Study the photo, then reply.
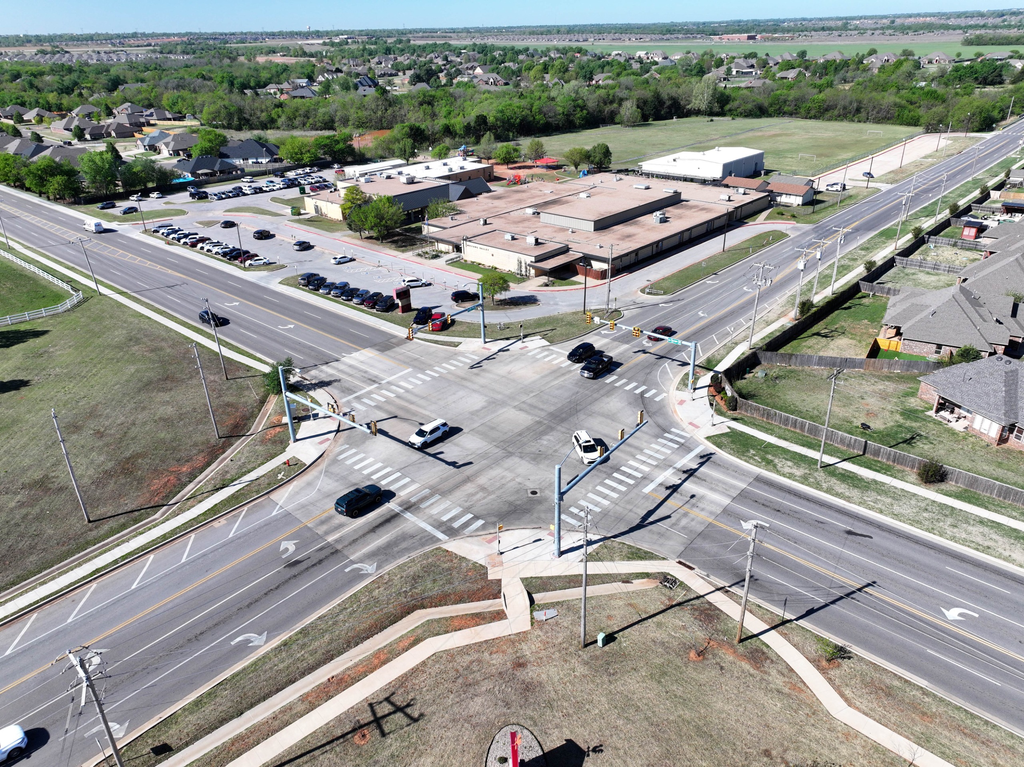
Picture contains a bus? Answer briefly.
Yes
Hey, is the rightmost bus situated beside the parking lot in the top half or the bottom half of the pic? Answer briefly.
top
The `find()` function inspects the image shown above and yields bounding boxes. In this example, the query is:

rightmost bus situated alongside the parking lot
[851,137,986,184]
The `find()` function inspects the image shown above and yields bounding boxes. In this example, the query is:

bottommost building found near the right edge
[886,355,1024,466]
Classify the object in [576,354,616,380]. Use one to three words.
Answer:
truck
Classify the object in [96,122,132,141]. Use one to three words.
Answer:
house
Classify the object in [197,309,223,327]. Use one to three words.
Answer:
car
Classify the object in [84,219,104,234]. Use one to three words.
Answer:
vehicle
